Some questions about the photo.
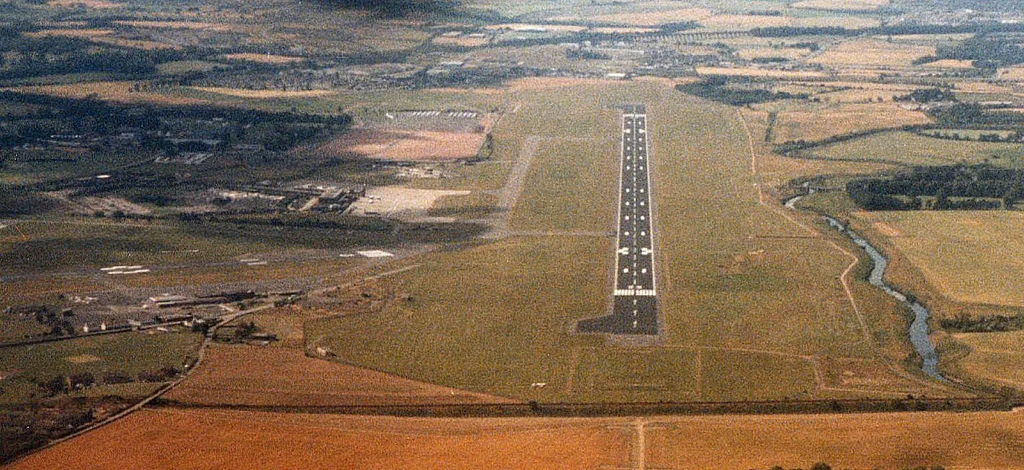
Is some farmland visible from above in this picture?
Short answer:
Yes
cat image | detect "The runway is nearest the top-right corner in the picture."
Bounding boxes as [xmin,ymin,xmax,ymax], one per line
[612,105,658,333]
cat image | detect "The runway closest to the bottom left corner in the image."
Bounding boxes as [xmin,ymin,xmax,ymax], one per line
[0,230,515,277]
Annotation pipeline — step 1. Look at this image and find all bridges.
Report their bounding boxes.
[631,29,753,42]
